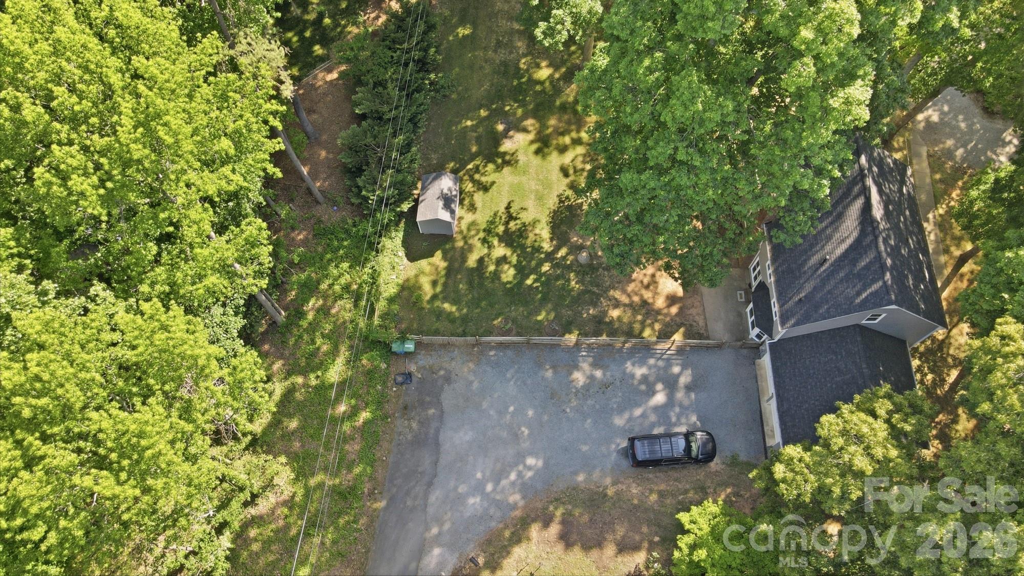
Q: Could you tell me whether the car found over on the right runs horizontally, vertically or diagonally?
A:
horizontally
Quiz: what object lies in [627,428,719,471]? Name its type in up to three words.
car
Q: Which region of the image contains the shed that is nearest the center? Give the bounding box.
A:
[416,167,460,236]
